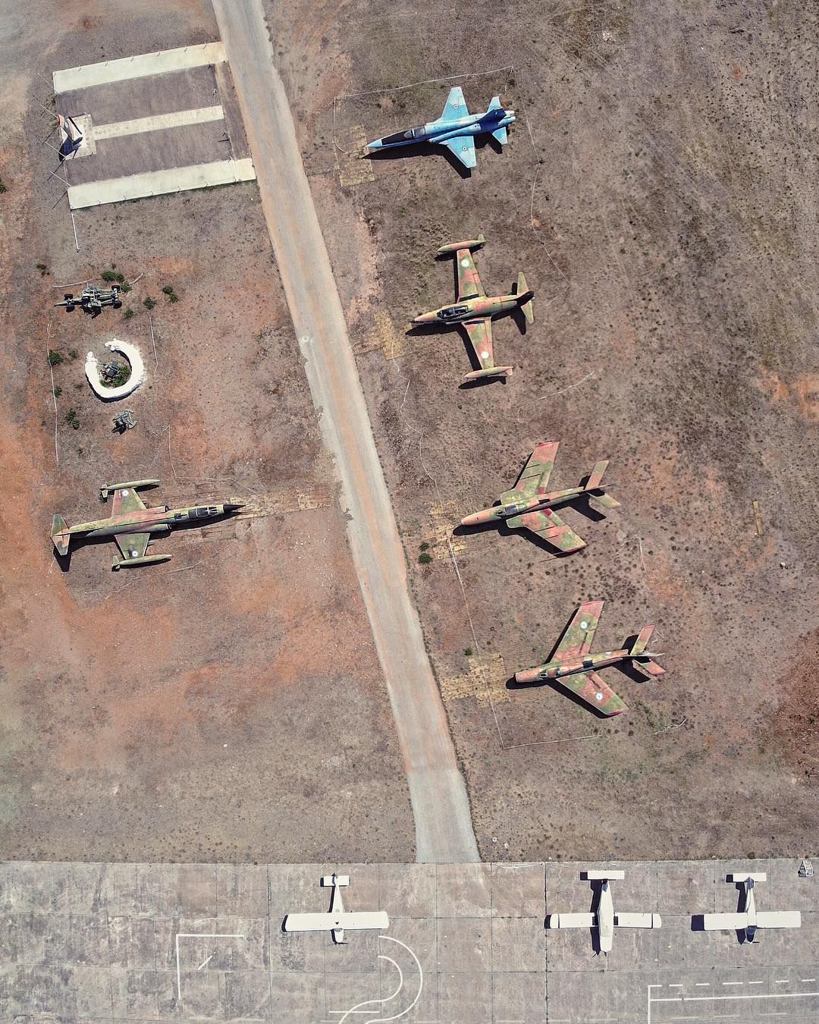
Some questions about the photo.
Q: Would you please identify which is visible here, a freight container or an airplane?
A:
airplane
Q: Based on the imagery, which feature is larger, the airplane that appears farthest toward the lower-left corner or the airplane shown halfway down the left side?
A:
the airplane shown halfway down the left side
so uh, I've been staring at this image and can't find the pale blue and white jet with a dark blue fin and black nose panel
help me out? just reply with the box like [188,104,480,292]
[368,85,516,169]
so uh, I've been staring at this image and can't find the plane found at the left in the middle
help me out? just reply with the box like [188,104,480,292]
[51,479,245,570]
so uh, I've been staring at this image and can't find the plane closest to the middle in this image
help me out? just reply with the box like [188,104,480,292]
[461,438,620,558]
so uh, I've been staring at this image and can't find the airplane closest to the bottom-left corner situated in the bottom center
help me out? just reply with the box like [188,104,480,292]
[285,876,389,943]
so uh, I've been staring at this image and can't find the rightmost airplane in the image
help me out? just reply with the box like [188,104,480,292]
[706,873,804,943]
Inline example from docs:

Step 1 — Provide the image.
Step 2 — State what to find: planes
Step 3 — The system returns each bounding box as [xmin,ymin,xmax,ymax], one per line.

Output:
[368,85,516,169]
[549,871,662,953]
[51,479,245,570]
[706,873,804,943]
[514,597,665,714]
[461,438,620,558]
[413,232,537,377]
[285,876,389,943]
